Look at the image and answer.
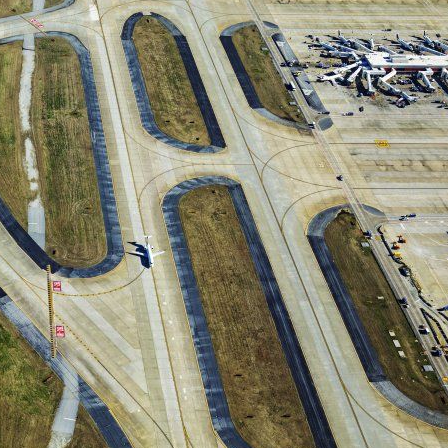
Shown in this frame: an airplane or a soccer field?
airplane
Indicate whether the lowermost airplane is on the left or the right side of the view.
left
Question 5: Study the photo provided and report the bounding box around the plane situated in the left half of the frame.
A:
[130,233,166,266]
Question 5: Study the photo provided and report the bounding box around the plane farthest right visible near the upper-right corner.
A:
[414,29,435,47]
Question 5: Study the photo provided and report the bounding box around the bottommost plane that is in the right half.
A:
[317,69,346,81]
